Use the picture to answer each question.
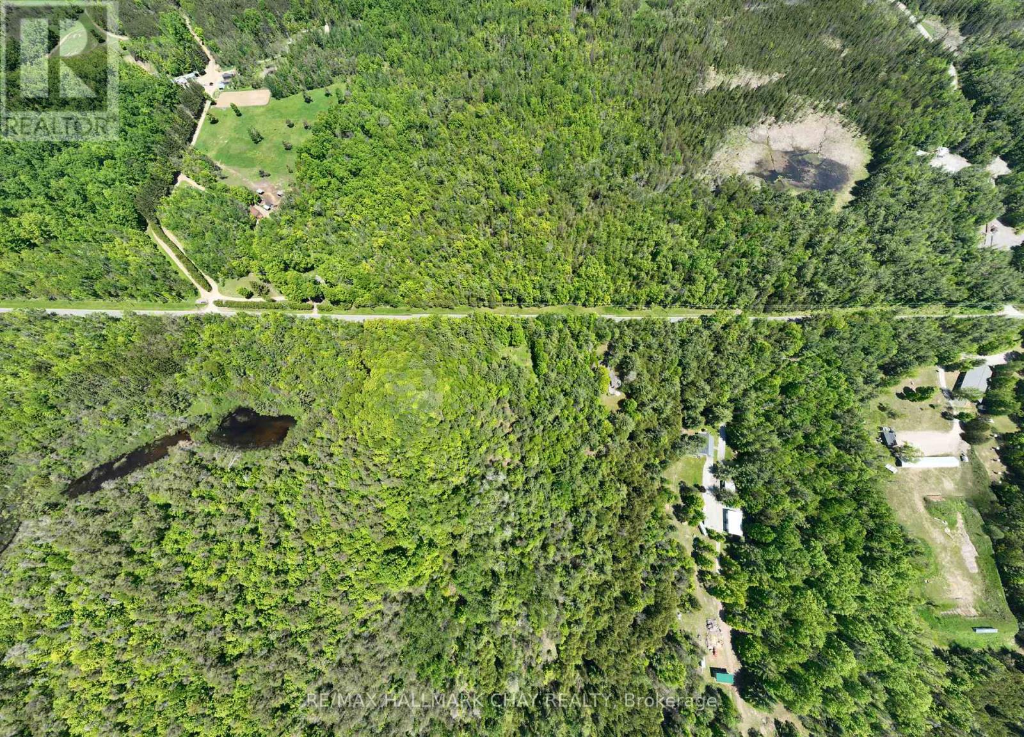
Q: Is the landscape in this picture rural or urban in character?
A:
rural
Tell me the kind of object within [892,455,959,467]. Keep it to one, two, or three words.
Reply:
barn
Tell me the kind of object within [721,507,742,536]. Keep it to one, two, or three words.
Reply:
building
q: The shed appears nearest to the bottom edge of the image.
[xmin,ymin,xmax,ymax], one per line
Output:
[712,667,734,685]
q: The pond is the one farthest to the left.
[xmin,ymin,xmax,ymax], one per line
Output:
[209,408,295,448]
